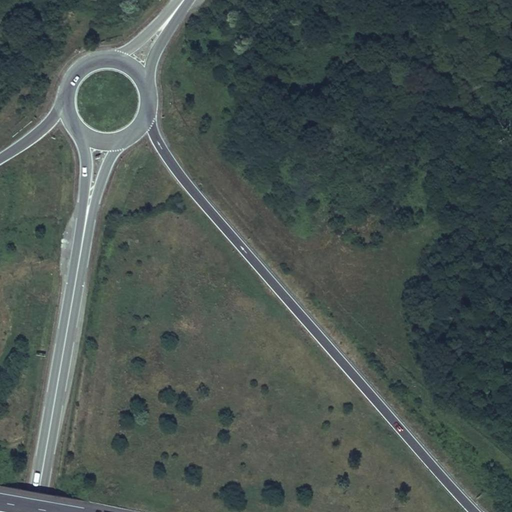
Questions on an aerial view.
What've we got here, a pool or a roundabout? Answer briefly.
roundabout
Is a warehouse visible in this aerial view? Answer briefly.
No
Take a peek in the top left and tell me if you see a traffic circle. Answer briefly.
Yes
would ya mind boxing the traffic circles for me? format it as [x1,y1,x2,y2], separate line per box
[56,50,158,152]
